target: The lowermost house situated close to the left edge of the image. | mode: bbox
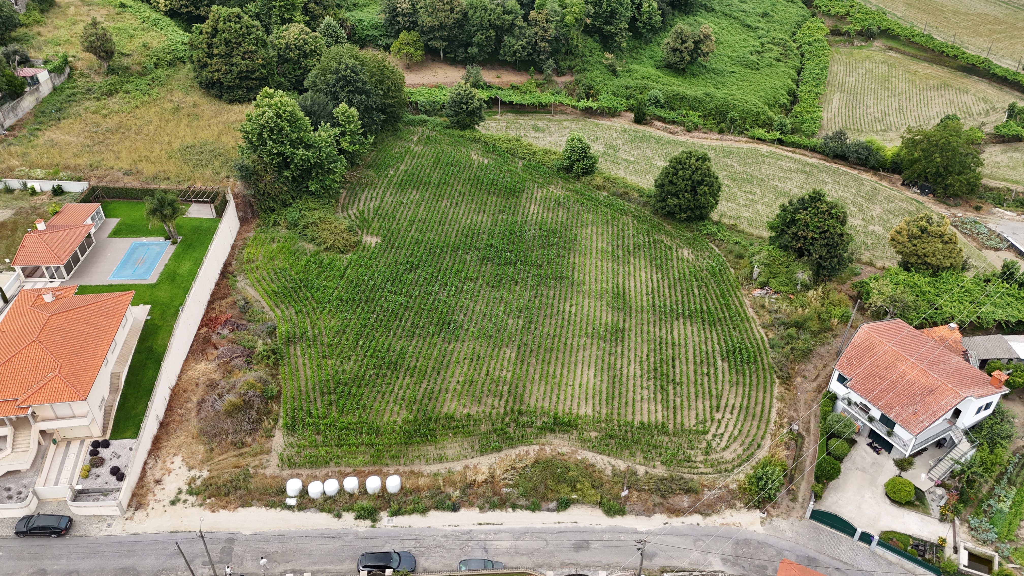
[0,282,151,473]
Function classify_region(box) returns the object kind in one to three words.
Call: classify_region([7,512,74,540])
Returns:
car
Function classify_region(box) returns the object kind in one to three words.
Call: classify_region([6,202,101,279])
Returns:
building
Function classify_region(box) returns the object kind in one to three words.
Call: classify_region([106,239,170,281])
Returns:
swimming pool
